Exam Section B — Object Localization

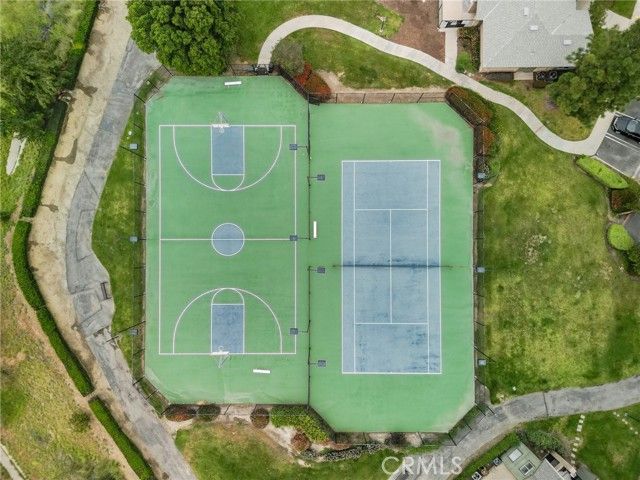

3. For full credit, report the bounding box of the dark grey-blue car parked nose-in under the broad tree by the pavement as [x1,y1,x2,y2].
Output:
[609,118,640,149]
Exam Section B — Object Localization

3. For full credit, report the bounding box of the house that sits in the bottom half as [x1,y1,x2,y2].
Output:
[498,438,561,480]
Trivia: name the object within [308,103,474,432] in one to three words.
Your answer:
tennis court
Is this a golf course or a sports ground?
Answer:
sports ground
